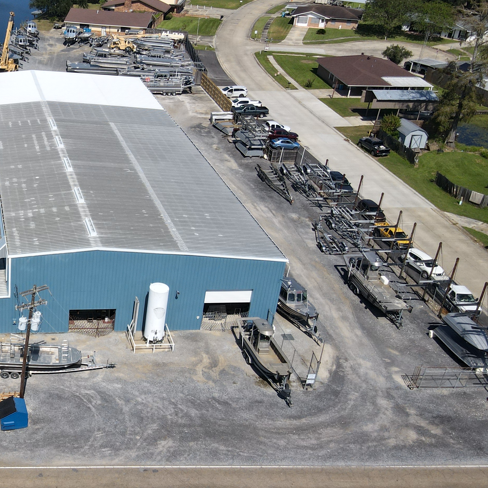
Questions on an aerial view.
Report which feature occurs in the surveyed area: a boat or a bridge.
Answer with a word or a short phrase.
boat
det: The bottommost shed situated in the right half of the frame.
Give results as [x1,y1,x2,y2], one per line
[406,110,435,149]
